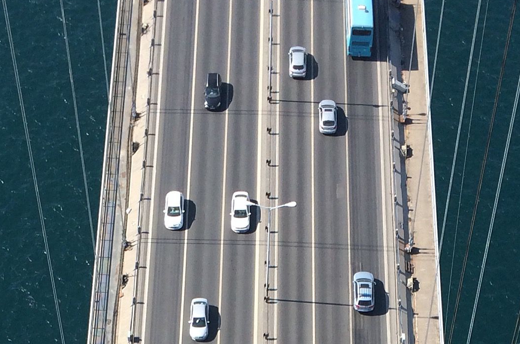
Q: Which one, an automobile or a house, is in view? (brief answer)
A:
automobile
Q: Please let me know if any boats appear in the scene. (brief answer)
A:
No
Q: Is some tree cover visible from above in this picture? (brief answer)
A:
No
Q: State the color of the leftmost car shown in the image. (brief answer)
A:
white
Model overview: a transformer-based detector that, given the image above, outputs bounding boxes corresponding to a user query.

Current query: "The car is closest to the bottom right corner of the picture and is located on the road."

[353,273,376,314]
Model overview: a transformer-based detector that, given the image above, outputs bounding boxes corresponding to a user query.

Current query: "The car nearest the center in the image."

[229,195,252,235]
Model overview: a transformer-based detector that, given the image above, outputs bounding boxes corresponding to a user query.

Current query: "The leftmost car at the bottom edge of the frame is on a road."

[188,299,210,343]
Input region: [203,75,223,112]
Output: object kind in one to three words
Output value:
car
